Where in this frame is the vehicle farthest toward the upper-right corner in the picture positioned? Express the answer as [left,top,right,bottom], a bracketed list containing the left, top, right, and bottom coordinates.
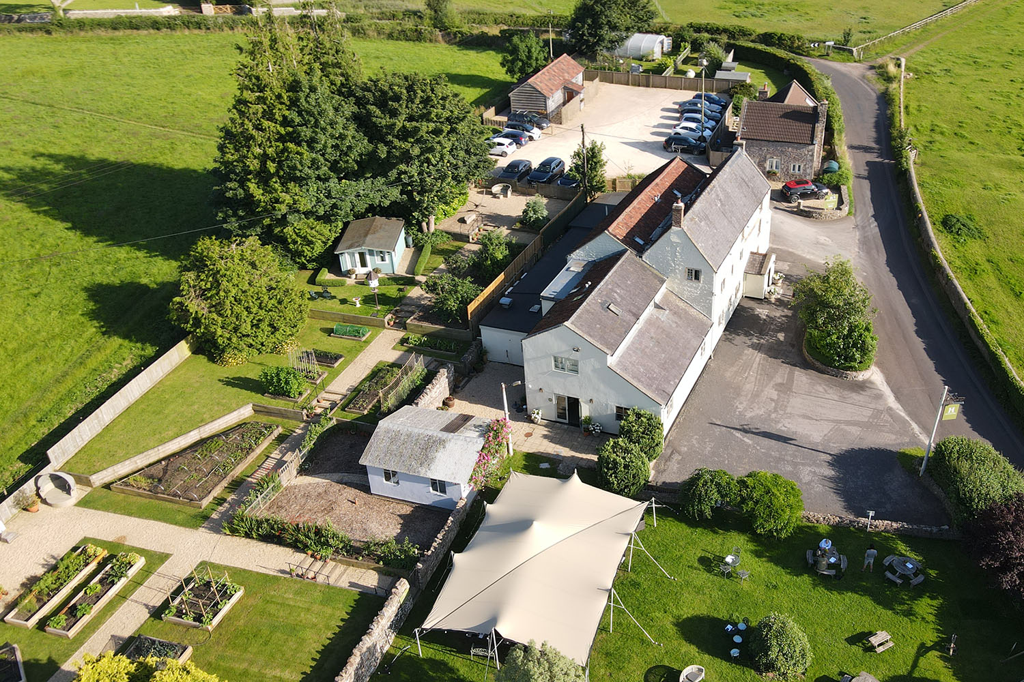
[782,179,832,202]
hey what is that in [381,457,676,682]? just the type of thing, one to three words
tent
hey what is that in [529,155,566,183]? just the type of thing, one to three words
car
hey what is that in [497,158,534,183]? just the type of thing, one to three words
car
